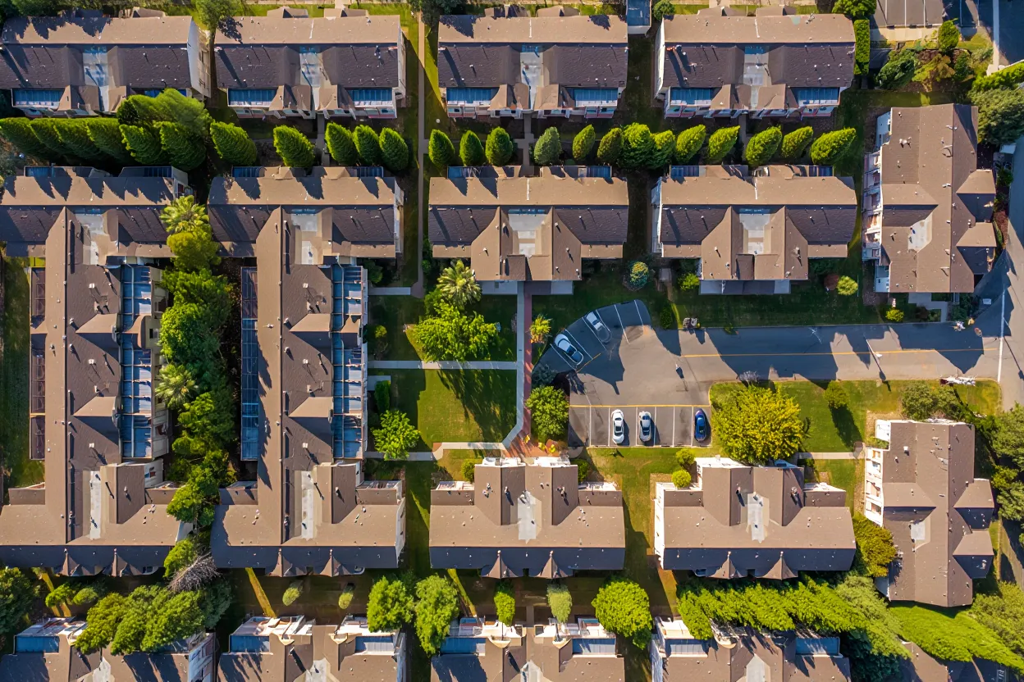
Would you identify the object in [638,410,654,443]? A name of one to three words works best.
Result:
car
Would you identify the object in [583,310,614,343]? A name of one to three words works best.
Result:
car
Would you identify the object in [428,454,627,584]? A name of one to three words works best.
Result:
building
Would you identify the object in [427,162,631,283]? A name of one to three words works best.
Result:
building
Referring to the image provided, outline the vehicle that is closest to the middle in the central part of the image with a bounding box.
[554,332,584,365]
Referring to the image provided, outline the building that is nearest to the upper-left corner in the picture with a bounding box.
[0,7,211,121]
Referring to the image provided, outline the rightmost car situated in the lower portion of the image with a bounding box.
[693,409,710,442]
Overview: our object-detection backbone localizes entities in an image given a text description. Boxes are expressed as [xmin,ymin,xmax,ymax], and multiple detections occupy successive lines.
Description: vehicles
[693,409,710,442]
[583,310,614,343]
[609,409,626,444]
[554,332,584,365]
[638,410,654,443]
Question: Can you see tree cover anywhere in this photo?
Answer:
Yes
